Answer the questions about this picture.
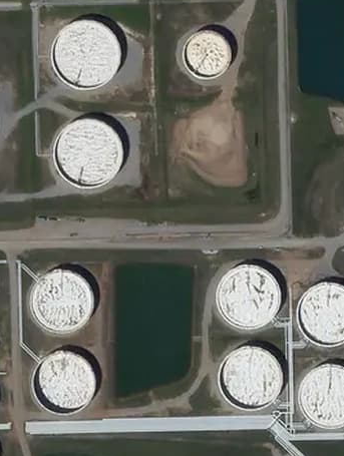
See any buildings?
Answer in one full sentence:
No, there is no building in the image.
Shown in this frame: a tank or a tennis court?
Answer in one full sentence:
Visible in the photo is a tank.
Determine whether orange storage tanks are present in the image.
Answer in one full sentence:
No, I find no orange storage tank anywhere in the image.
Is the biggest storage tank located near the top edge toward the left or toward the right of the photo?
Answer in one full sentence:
It is on the left.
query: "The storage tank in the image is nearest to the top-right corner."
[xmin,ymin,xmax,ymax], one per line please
[181,29,232,80]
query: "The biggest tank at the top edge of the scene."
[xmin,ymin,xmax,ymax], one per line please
[50,19,122,91]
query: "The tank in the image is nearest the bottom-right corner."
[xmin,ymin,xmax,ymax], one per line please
[297,363,344,430]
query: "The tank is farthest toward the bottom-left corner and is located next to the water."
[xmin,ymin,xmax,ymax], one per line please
[31,350,97,416]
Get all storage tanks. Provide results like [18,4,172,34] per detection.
[217,344,285,412]
[297,363,344,430]
[181,29,232,80]
[53,118,125,189]
[296,281,344,348]
[215,264,282,331]
[50,19,122,91]
[31,269,94,332]
[31,350,97,416]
